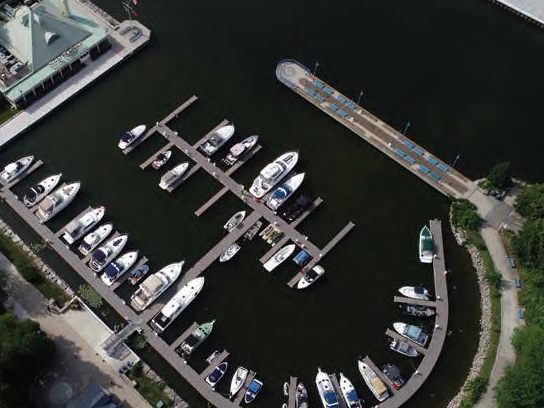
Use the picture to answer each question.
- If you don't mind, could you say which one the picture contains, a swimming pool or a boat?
boat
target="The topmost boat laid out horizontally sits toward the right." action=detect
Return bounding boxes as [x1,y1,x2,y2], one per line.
[398,286,432,300]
